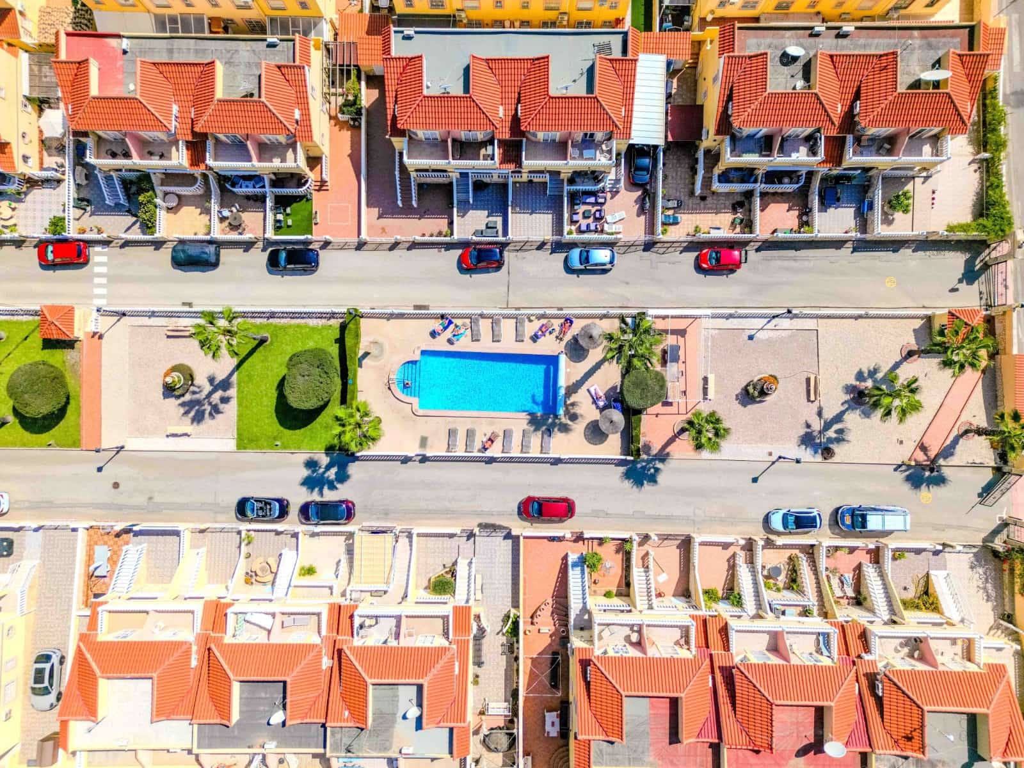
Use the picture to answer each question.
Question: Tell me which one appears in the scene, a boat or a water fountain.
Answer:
water fountain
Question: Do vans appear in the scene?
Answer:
Yes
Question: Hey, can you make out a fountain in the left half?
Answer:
Yes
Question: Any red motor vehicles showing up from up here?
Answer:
Yes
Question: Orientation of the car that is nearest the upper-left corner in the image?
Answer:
from left to right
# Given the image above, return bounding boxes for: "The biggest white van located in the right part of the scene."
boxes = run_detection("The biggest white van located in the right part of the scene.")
[840,504,919,534]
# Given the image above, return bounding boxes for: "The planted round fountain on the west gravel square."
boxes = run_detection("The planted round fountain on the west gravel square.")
[162,365,193,395]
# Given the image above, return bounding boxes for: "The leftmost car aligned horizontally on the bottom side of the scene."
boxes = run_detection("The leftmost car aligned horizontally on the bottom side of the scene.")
[232,497,288,524]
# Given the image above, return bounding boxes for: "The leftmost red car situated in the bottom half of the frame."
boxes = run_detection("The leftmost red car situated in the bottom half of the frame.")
[520,496,576,524]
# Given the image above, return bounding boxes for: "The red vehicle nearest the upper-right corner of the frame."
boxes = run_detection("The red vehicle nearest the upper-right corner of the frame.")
[700,246,754,272]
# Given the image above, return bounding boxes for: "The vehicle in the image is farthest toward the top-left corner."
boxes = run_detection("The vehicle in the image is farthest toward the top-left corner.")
[33,239,86,266]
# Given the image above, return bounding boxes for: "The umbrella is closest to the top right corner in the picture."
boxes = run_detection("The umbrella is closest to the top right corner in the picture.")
[575,322,603,350]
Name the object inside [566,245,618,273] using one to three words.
car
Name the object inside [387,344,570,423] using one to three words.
swimming pool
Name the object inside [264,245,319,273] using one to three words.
car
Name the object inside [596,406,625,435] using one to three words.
umbrella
